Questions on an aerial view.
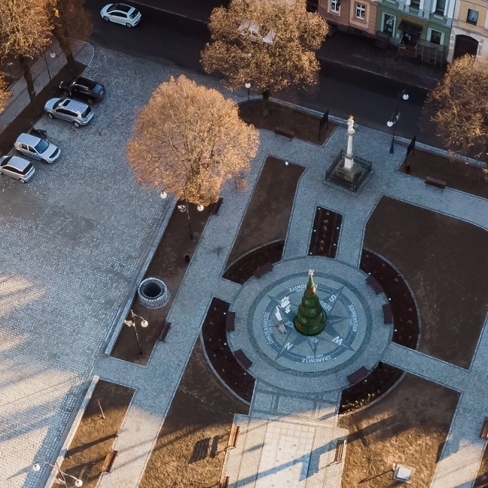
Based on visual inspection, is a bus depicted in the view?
No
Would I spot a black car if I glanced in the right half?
No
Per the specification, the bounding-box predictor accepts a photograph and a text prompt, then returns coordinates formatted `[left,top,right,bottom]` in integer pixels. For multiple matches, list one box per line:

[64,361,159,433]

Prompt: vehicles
[0,153,40,186]
[9,128,62,165]
[40,95,99,129]
[55,73,111,106]
[96,1,145,31]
